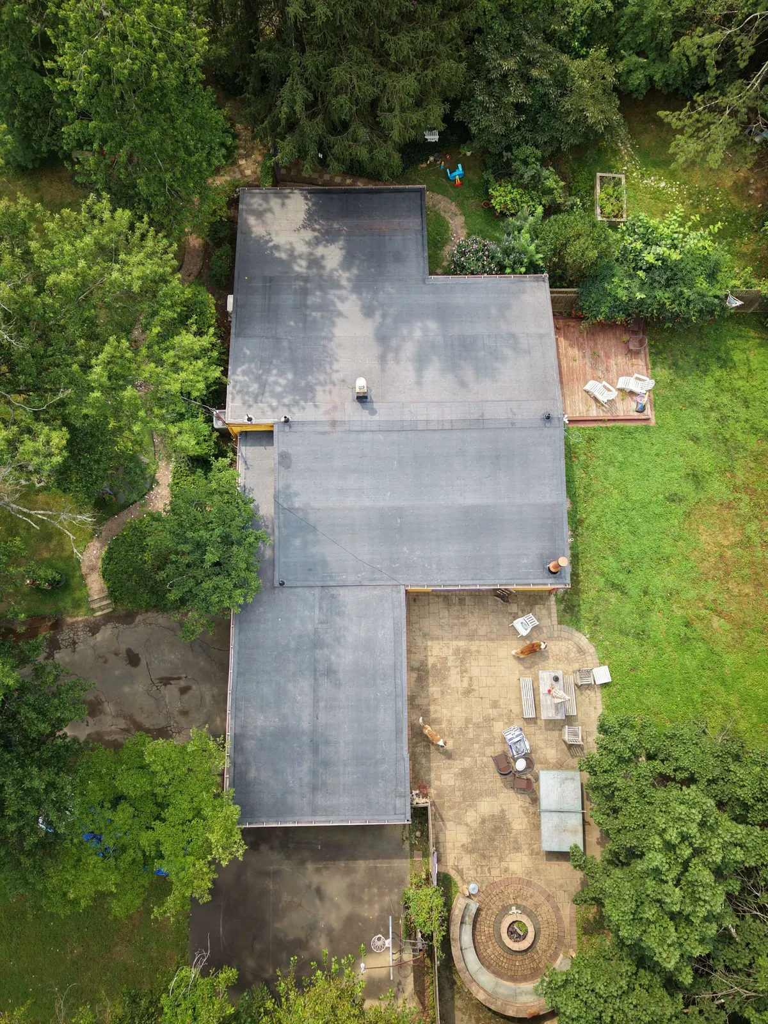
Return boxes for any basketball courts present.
[189,800,416,1024]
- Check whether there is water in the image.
No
